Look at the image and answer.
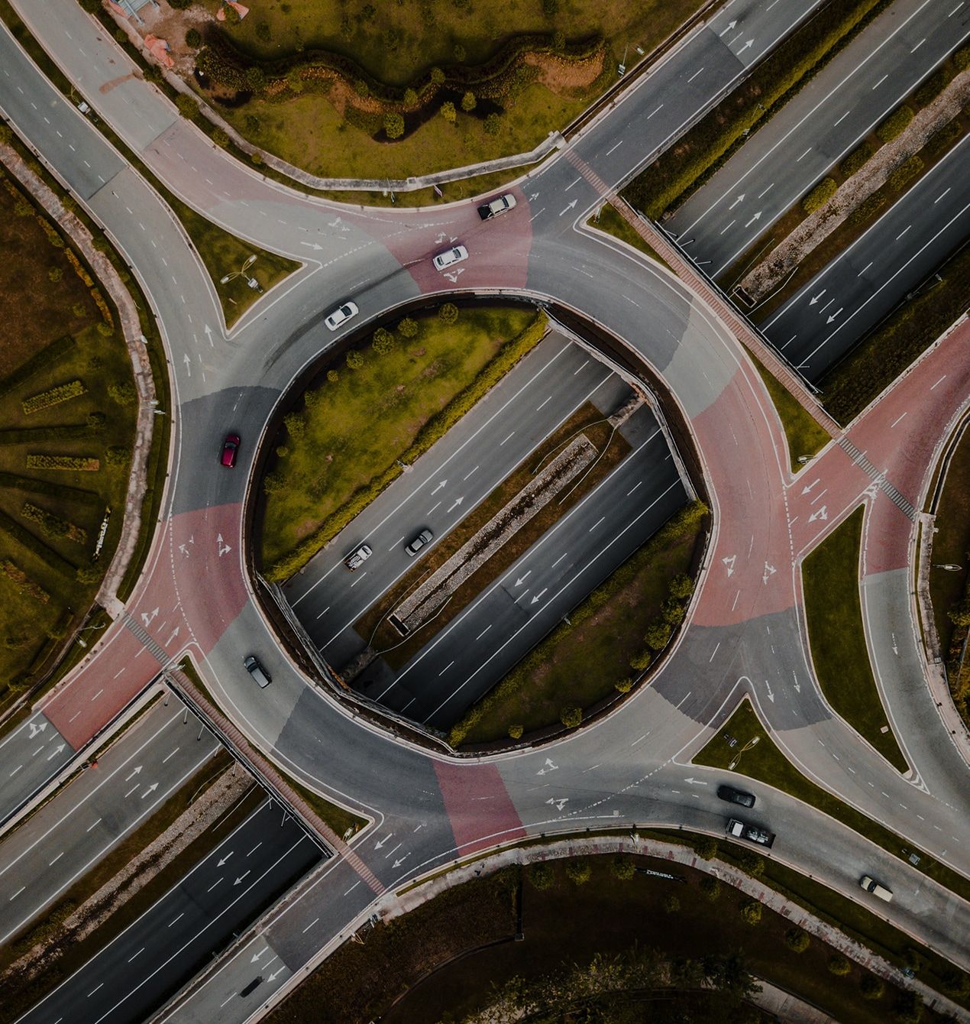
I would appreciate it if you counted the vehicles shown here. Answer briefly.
10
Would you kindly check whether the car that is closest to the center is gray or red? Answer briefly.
gray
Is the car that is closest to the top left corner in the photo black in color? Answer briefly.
No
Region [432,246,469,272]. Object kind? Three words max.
car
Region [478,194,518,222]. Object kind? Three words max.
truck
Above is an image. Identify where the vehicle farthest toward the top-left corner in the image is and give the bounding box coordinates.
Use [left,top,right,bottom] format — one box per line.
[323,302,360,330]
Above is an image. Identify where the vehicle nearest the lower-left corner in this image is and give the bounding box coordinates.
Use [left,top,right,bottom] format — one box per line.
[244,655,272,690]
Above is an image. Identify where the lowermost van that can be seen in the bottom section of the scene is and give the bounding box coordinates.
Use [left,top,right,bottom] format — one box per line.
[858,875,897,904]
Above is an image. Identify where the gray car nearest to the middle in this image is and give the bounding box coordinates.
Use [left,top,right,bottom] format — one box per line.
[404,528,435,558]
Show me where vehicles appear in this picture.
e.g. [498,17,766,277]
[343,544,373,572]
[858,875,897,904]
[478,194,518,222]
[323,302,360,330]
[716,785,757,808]
[725,819,774,849]
[244,655,272,690]
[432,246,469,272]
[220,435,240,467]
[404,528,435,558]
